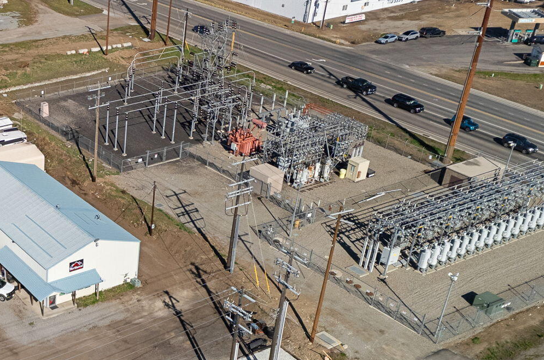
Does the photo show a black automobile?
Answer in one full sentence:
Yes, there's a black automobile down there.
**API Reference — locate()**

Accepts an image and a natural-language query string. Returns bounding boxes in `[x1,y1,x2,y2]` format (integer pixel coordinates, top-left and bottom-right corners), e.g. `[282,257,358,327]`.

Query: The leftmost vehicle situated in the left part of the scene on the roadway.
[191,21,214,34]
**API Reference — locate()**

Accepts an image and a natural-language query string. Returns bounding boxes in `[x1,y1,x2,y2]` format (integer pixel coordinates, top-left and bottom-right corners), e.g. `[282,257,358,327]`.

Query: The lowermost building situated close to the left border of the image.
[0,161,144,328]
